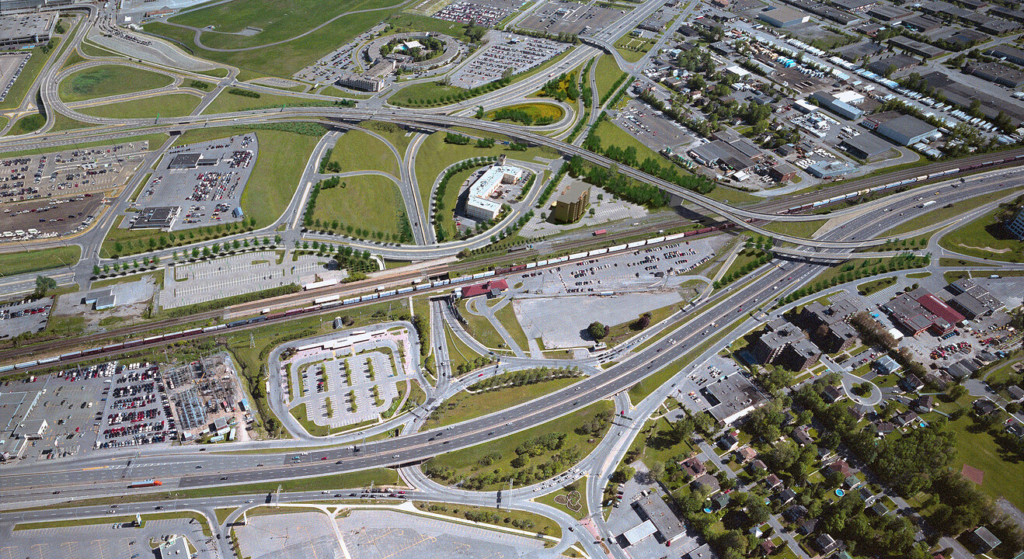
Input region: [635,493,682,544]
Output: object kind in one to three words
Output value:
building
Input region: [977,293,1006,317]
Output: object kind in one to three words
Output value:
building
